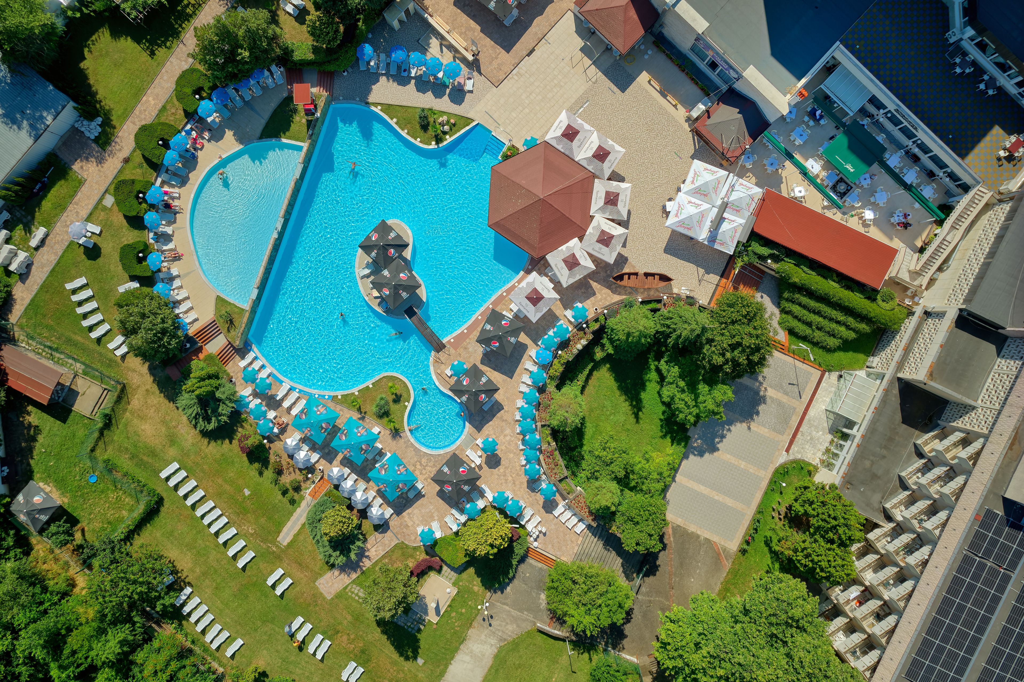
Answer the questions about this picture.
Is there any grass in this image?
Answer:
Yes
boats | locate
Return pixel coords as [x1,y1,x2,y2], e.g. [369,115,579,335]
[612,271,675,287]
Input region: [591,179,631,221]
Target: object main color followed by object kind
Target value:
white umbrella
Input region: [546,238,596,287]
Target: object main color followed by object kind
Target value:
white umbrella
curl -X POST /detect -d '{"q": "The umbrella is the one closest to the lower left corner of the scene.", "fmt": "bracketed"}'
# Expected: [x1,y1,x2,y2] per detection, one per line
[12,480,62,532]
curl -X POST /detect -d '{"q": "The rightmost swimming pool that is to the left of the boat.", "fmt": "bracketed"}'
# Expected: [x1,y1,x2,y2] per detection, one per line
[251,105,528,450]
